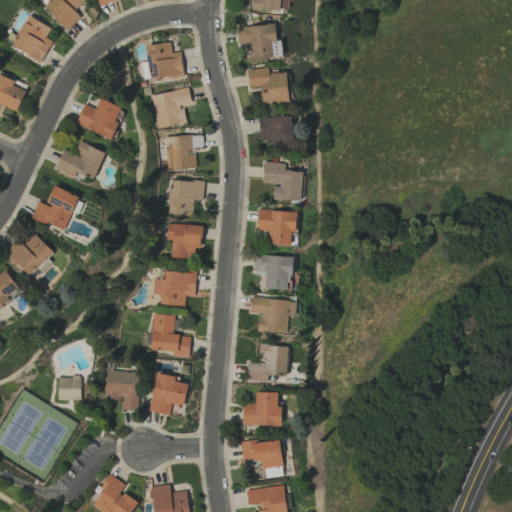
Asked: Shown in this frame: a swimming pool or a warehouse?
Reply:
swimming pool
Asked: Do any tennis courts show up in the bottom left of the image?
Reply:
Yes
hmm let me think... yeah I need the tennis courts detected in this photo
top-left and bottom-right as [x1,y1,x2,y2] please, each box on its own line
[0,390,52,464]
[18,408,78,480]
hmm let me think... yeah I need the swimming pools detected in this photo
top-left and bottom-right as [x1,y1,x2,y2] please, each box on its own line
[127,268,161,308]
[155,361,183,374]
[0,296,30,321]
[50,214,99,246]
[135,41,150,62]
[96,156,118,190]
[52,340,95,378]
[12,9,31,34]
[37,265,63,290]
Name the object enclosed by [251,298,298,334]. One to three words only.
house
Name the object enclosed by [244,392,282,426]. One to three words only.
house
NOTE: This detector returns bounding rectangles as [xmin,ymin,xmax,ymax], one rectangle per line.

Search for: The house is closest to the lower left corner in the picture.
[92,476,138,512]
